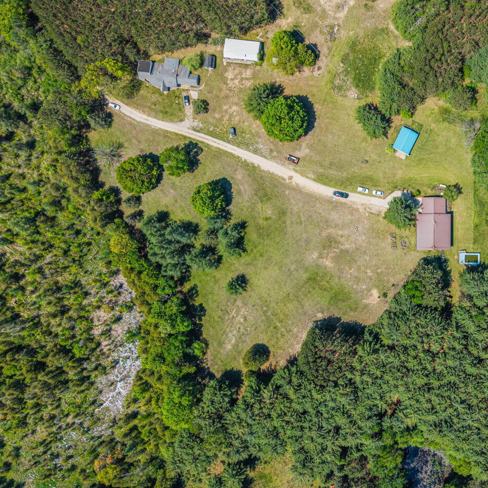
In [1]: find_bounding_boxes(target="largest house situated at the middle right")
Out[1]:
[416,196,452,250]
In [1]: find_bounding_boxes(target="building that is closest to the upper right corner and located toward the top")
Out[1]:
[392,127,419,155]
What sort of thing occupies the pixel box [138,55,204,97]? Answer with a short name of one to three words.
house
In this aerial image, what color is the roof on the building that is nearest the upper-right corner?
blue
